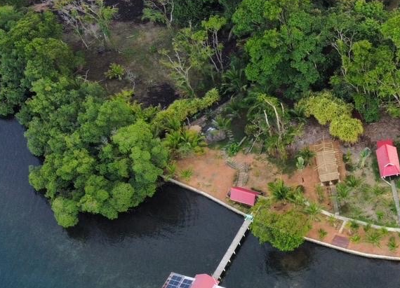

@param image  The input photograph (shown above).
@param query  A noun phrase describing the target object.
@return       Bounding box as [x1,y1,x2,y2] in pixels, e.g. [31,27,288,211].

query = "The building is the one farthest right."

[377,142,400,187]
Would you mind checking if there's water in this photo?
Yes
